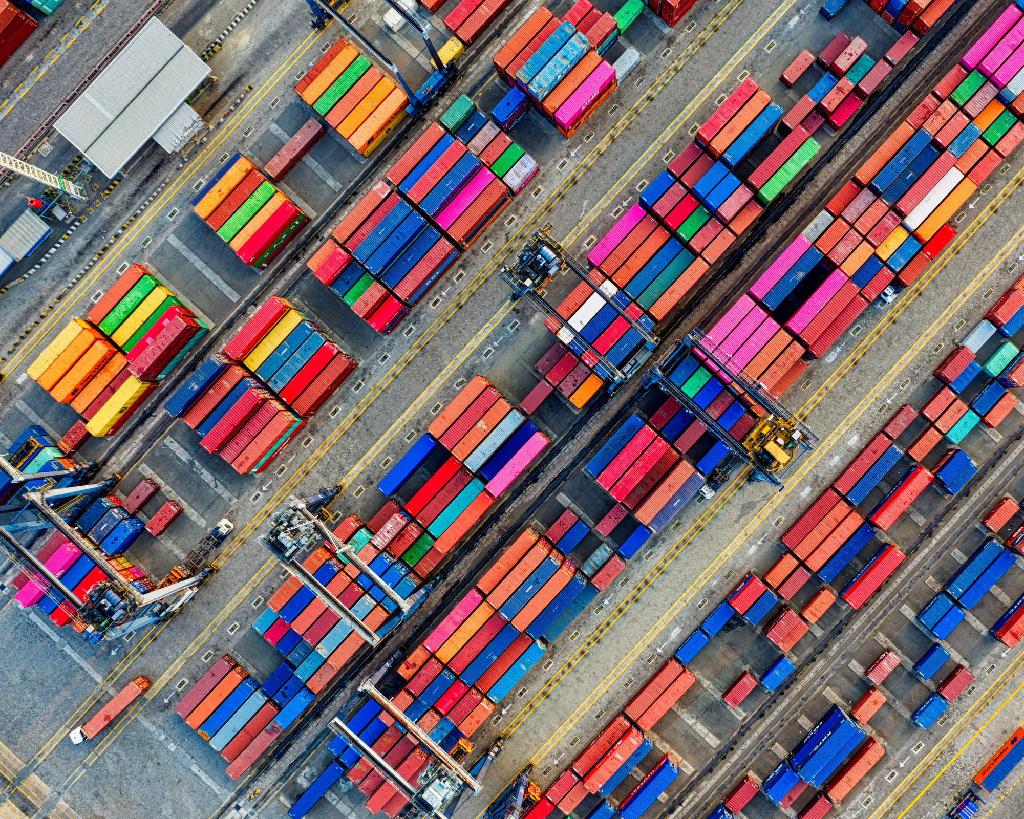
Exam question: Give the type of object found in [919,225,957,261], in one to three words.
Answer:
shipping container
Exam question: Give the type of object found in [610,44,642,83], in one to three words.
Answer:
shipping container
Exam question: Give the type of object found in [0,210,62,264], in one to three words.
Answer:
shed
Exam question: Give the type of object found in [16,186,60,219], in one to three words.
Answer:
water tank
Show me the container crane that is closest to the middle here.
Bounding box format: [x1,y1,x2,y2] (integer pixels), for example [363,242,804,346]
[494,219,670,402]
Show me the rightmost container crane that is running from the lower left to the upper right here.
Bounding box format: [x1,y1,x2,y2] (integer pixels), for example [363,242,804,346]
[478,752,545,819]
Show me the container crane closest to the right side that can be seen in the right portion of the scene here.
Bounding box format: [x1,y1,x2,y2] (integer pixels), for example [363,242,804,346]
[633,324,818,490]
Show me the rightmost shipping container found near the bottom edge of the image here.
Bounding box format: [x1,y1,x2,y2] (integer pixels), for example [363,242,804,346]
[972,725,1024,790]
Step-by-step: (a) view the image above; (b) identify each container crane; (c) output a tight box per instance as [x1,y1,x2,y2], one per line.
[633,324,818,490]
[494,219,670,402]
[328,635,516,819]
[301,0,464,127]
[478,752,545,819]
[0,462,227,645]
[0,447,111,520]
[248,474,450,652]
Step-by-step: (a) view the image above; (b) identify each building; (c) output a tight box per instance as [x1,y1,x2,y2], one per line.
[50,205,73,224]
[0,210,62,264]
[53,16,220,181]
